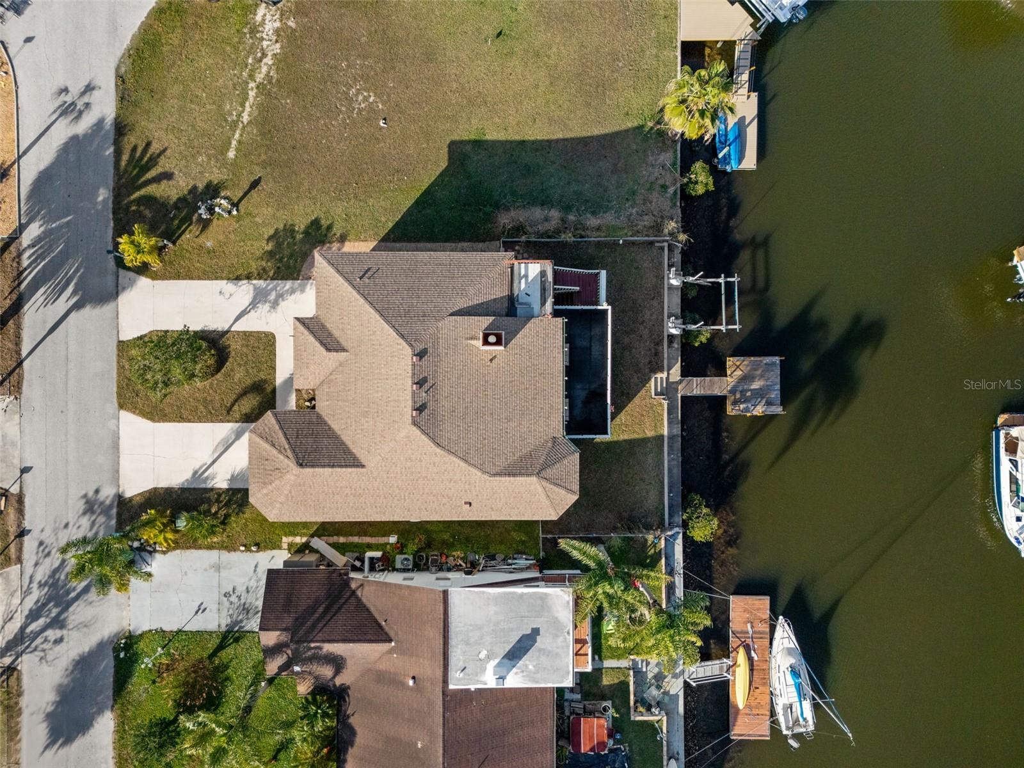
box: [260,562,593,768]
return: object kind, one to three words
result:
house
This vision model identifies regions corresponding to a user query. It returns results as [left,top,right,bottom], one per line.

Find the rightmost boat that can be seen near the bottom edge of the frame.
[765,614,872,756]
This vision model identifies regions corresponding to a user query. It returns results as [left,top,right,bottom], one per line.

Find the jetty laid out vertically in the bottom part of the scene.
[727,592,770,740]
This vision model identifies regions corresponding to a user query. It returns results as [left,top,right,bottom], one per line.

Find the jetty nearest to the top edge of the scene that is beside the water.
[683,0,760,44]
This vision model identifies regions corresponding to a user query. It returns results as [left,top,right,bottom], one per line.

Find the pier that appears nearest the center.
[683,356,786,416]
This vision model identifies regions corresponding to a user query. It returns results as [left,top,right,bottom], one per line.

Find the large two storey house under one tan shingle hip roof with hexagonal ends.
[247,249,614,522]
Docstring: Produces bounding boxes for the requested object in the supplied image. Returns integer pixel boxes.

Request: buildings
[247,249,614,522]
[260,562,593,768]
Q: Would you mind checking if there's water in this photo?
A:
Yes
